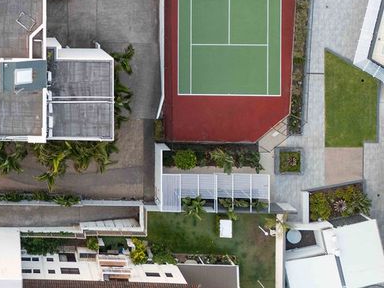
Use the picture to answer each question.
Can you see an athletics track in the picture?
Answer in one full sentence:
No, no athletics track is visible in the scene.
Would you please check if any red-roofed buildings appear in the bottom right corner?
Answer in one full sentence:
No, the scene shows no red-roofed building in the bottom right corner.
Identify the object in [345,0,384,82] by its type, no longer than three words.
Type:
house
